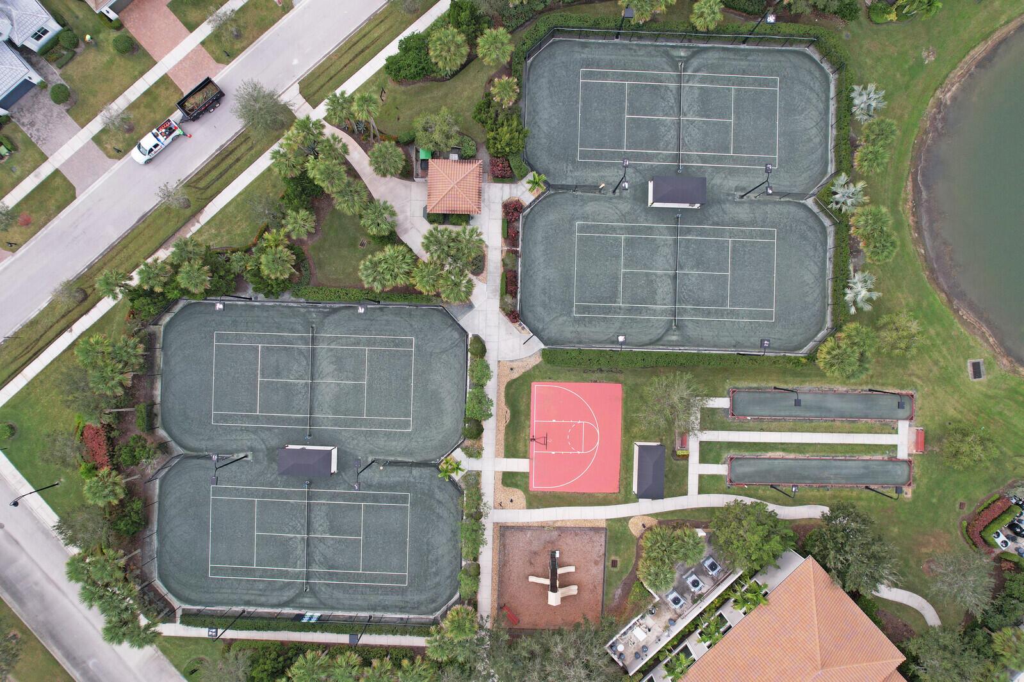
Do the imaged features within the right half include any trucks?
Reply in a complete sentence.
No, within the right half there is no truck.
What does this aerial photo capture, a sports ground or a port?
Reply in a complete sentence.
This looks like a sports ground.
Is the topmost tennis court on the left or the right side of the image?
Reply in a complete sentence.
The topmost tennis court appears in the right half of the scene.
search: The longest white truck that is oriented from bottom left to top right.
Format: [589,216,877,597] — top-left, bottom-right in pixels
[128,118,178,164]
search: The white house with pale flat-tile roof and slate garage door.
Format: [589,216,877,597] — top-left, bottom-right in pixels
[0,41,43,115]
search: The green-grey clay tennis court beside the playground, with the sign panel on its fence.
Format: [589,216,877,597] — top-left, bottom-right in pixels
[158,455,461,615]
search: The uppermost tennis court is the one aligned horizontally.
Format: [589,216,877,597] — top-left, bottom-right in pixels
[526,40,830,197]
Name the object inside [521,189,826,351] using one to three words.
tennis court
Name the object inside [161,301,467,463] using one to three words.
tennis court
